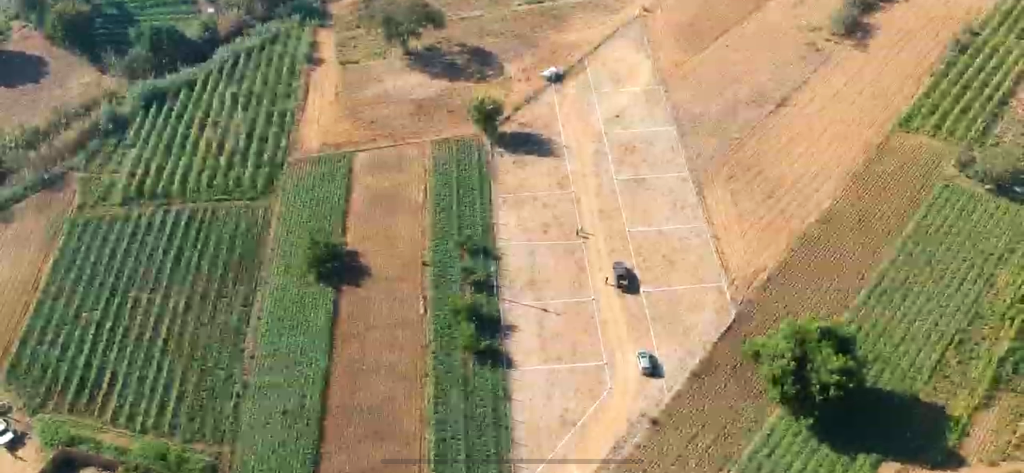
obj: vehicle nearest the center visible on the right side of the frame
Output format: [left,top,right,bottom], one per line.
[616,266,633,292]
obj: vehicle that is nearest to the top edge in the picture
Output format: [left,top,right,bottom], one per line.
[543,70,564,82]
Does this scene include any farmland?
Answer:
Yes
